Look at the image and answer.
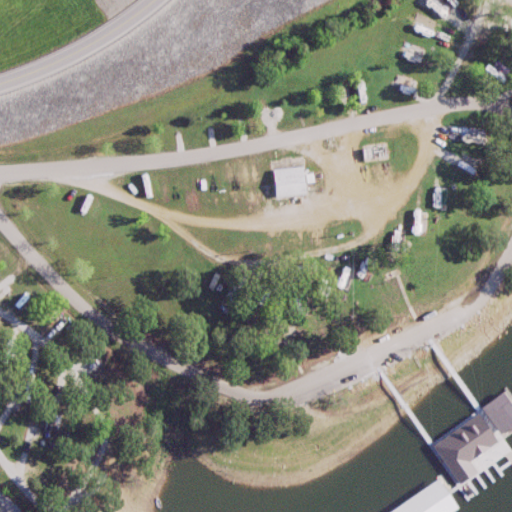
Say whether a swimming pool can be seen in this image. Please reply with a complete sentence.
No, the frame has no swimming pool in it.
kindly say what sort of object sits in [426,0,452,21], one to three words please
camper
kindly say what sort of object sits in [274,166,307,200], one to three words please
building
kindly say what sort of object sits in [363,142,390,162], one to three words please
building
